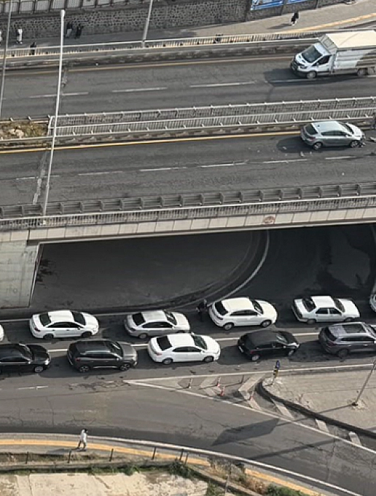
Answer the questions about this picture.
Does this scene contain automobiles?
Yes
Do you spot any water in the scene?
No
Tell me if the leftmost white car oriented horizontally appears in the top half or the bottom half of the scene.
bottom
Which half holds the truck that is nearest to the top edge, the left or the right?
right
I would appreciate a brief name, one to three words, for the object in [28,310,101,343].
car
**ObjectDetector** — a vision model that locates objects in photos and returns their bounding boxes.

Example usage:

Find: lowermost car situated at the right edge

[314,317,376,353]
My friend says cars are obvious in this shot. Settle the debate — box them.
[366,288,376,314]
[28,310,101,343]
[120,304,192,337]
[297,121,365,152]
[290,293,359,324]
[65,337,138,374]
[208,295,278,331]
[145,331,222,366]
[314,317,376,353]
[0,345,51,378]
[232,325,298,359]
